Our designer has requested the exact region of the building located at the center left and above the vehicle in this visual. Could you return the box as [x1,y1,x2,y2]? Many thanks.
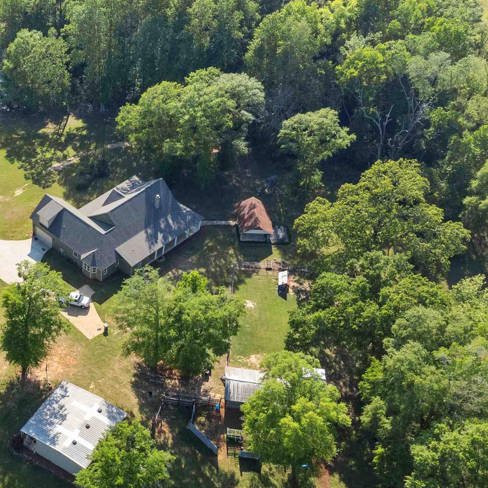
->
[25,176,205,280]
